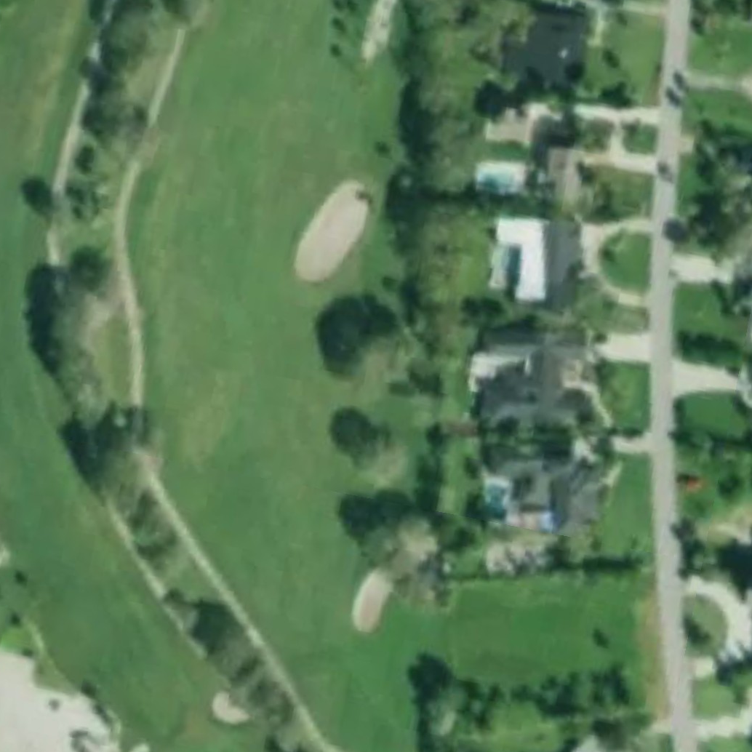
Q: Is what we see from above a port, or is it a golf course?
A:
golf course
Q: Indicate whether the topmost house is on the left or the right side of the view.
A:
right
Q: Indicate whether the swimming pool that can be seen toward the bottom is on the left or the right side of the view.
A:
right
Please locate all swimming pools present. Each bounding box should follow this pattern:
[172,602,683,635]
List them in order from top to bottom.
[476,164,527,195]
[491,245,521,290]
[485,478,510,523]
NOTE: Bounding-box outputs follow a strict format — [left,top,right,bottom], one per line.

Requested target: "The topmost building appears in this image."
[502,8,588,84]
